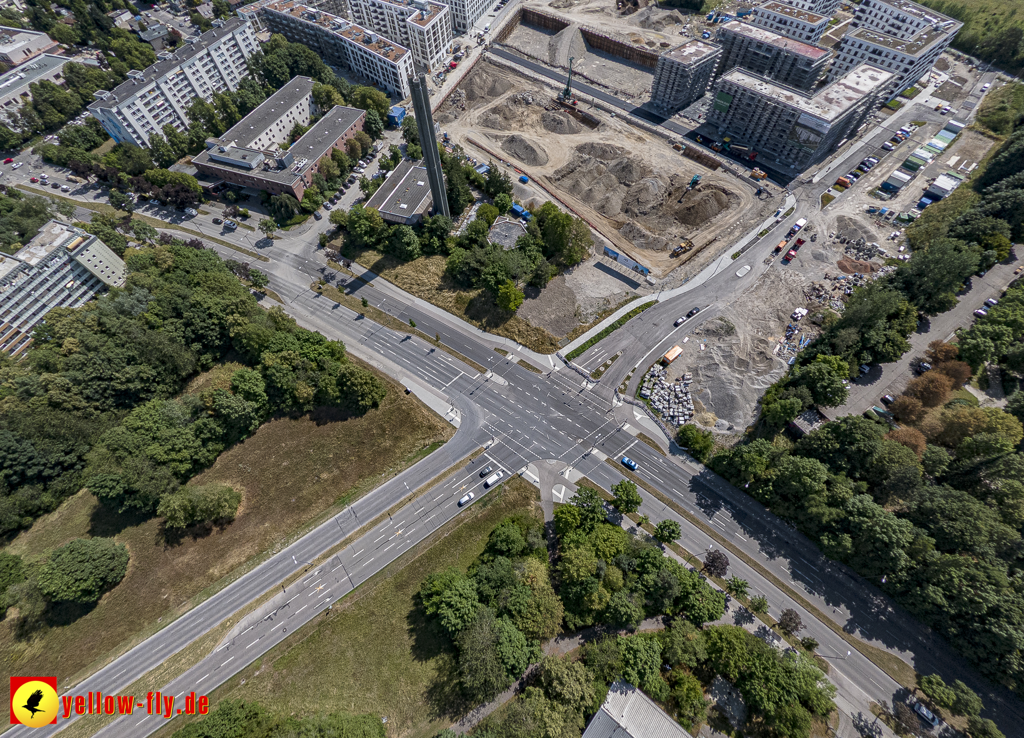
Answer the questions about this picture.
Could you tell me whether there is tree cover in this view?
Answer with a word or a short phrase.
Yes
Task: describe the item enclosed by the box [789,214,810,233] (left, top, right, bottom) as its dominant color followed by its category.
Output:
white vehicle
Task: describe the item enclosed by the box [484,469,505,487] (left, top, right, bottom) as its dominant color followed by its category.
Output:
white vehicle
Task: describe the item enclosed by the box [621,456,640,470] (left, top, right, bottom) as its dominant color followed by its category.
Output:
blue car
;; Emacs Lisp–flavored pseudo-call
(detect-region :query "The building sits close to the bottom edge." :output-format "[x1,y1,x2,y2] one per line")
[580,682,677,738]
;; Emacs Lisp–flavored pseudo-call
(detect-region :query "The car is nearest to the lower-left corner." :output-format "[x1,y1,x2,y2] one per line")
[457,490,476,506]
